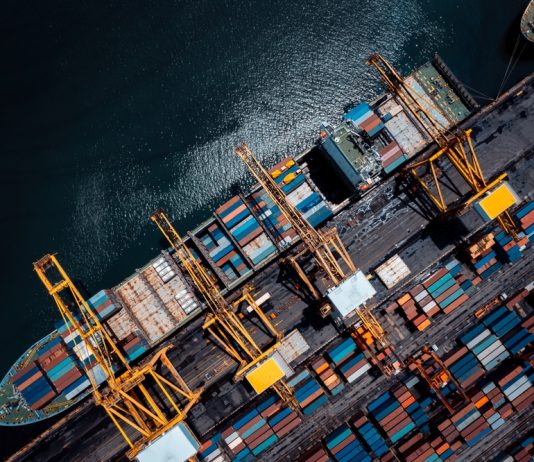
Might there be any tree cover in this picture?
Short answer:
No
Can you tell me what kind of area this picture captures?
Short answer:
port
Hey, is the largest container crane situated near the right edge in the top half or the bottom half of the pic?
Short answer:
top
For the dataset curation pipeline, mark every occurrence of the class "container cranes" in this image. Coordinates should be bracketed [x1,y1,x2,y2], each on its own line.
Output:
[234,140,396,351]
[350,321,403,379]
[147,210,307,418]
[405,339,471,415]
[366,49,523,252]
[28,254,209,462]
